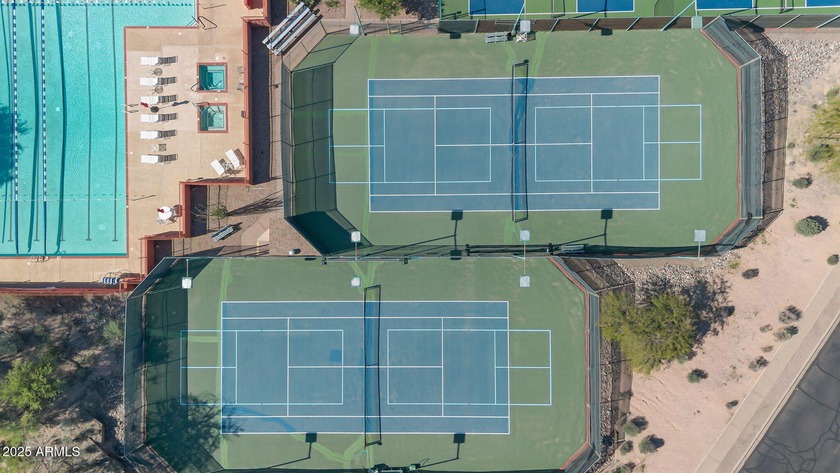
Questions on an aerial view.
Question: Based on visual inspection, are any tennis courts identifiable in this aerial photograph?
Yes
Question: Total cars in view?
0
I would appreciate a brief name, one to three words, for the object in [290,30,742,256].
tennis court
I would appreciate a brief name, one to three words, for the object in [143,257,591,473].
tennis court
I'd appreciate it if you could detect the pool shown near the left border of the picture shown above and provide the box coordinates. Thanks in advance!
[0,0,199,265]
